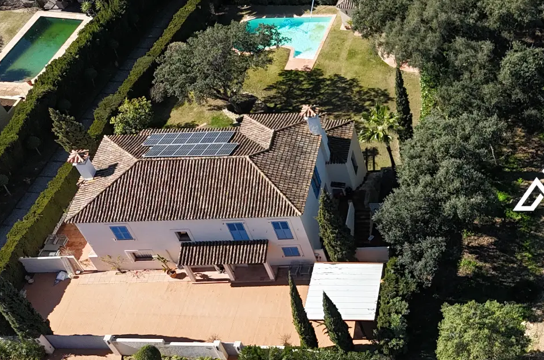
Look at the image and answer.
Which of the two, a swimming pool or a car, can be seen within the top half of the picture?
swimming pool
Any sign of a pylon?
No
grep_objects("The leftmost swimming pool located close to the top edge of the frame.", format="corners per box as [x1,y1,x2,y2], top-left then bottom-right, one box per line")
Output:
[0,11,93,86]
